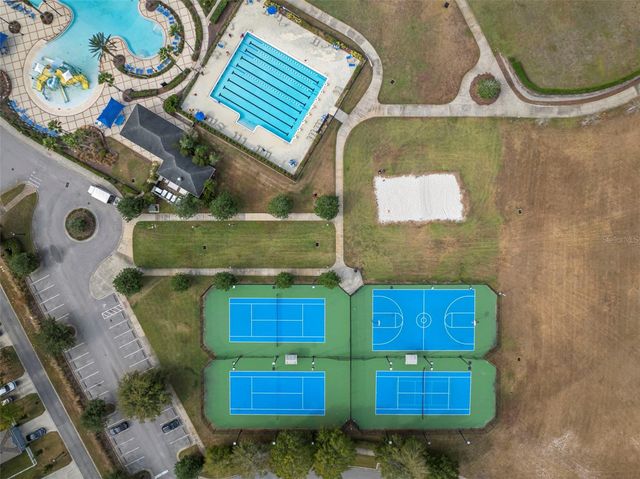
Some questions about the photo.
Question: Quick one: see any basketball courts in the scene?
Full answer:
Yes, the photo shows a basketball court.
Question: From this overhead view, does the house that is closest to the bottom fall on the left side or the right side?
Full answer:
The house that is closest to the bottom sits on the left side.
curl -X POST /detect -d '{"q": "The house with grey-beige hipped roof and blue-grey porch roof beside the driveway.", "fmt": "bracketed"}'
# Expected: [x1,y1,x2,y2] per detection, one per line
[0,422,35,465]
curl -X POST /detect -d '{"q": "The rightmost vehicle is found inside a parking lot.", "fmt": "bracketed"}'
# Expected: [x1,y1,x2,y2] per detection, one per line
[161,418,182,432]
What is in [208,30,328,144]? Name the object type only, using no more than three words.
swimming pool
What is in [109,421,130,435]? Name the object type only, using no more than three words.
car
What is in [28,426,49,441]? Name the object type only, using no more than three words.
car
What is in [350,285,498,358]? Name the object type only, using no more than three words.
basketball court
